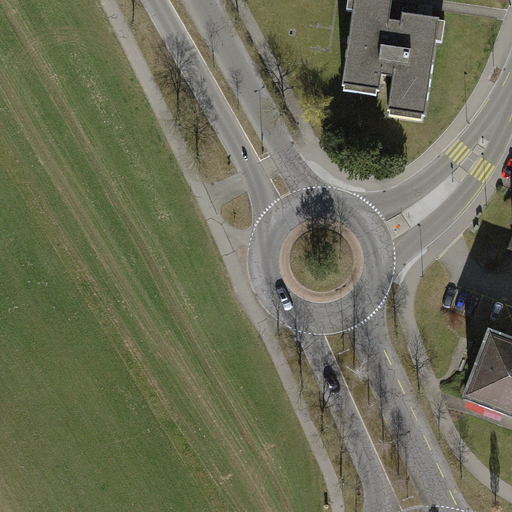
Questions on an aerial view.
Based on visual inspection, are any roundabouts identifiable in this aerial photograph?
Yes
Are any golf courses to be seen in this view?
No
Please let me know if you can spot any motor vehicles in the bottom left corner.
No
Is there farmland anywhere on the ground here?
No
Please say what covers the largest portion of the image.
grass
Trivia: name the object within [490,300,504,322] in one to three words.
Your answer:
vehicle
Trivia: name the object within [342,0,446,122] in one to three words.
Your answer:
building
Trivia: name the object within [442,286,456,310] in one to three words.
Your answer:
vehicle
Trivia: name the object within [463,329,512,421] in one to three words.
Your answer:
house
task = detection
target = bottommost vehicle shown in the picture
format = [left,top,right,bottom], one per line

[324,370,340,393]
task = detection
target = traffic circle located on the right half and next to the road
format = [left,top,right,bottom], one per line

[248,186,396,336]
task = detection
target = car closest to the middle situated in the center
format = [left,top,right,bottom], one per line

[277,287,294,311]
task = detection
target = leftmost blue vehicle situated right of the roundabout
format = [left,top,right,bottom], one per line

[455,290,468,311]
